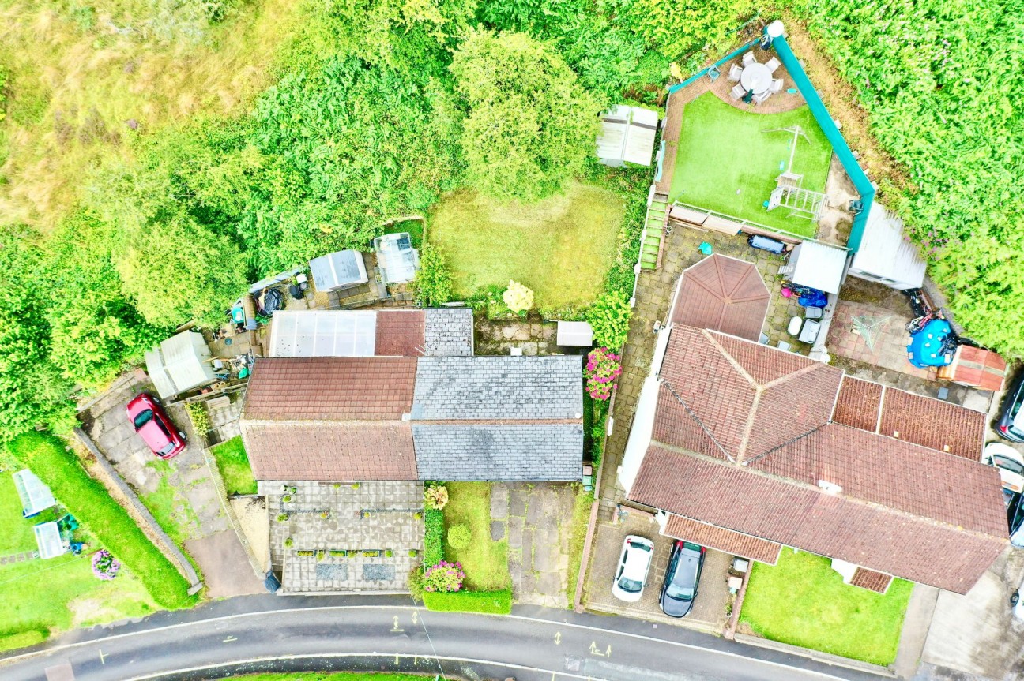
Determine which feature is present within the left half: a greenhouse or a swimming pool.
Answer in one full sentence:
The feature located within the left half is a greenhouse.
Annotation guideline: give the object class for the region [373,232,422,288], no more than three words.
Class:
greenhouse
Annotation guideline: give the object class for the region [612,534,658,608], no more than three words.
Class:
car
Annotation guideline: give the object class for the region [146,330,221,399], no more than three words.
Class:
shed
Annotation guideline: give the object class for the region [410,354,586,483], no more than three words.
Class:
house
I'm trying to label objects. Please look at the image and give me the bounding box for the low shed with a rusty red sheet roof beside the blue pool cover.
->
[935,346,1008,392]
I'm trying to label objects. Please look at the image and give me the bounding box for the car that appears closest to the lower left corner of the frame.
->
[122,392,182,466]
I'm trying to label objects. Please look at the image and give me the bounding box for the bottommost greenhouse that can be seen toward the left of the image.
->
[33,519,76,560]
